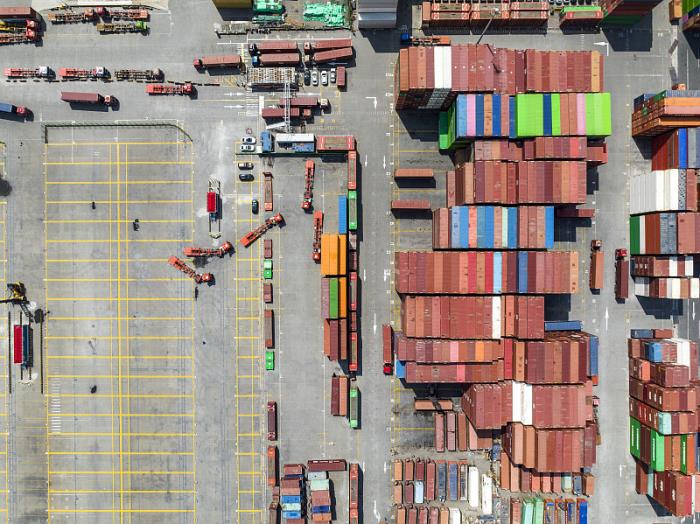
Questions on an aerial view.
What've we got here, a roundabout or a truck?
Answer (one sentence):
This aerial view contains a truck.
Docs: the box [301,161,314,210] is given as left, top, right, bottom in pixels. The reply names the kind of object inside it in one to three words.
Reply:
vehicle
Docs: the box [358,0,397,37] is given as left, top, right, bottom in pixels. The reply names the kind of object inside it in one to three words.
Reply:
shed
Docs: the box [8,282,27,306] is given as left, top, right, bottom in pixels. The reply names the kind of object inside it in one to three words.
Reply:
work vehicle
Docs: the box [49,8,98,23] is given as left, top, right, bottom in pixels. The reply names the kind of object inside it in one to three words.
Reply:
vehicle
